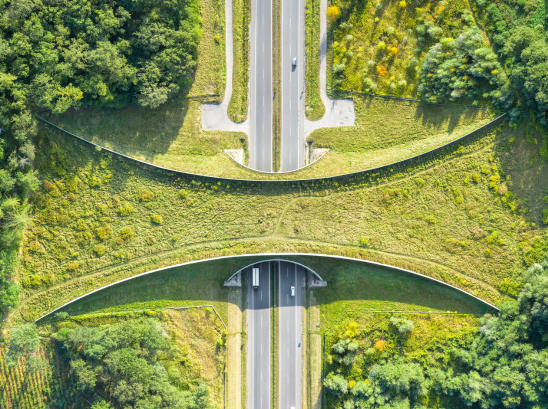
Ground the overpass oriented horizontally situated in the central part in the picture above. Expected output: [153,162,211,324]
[35,113,506,323]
